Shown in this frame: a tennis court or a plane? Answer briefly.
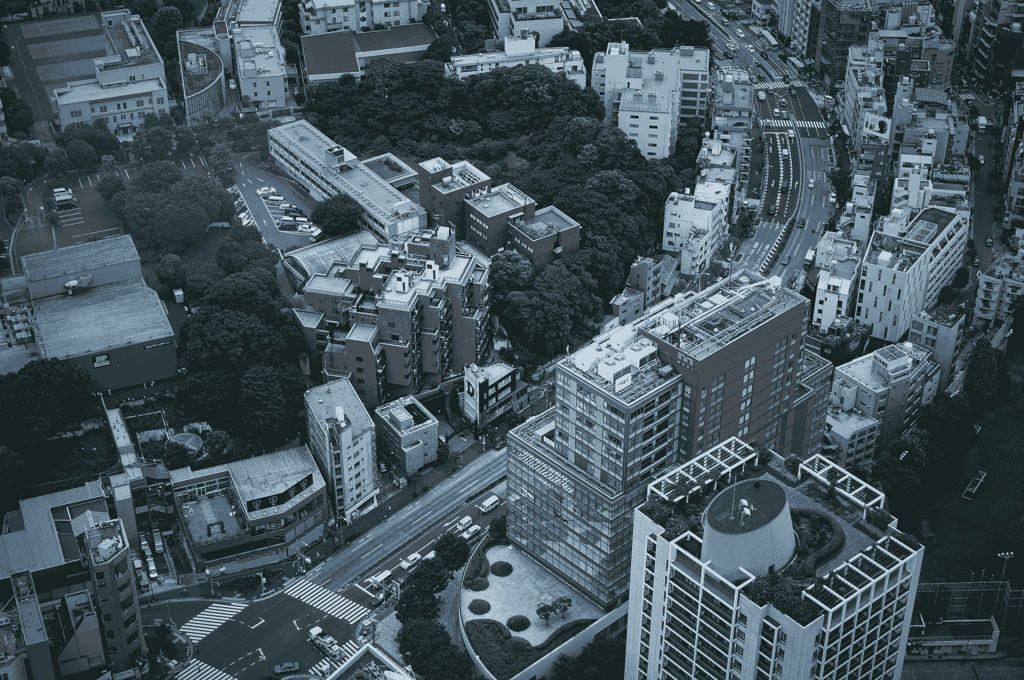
tennis court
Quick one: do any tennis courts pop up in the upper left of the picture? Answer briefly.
Yes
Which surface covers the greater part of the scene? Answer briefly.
buildings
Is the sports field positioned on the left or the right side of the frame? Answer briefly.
right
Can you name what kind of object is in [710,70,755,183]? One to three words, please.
building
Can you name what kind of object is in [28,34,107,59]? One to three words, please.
tennis court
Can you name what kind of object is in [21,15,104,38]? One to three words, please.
tennis court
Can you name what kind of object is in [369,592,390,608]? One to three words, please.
car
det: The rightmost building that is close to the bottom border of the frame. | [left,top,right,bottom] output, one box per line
[901,615,1000,669]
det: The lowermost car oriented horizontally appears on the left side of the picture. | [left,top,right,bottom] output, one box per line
[275,663,299,675]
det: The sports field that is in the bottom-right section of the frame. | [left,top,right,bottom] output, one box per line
[905,360,1024,659]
